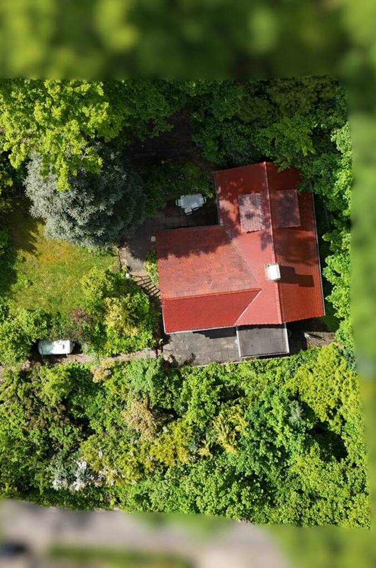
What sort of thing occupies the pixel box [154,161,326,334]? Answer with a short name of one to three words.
house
